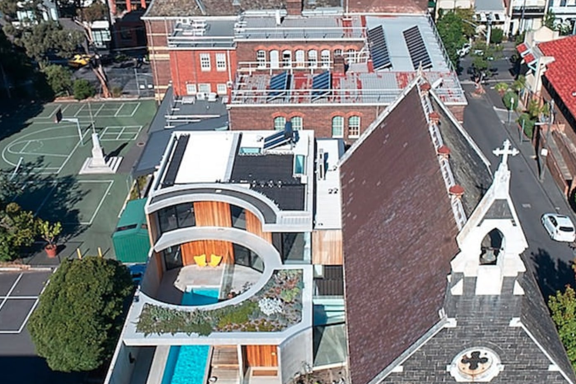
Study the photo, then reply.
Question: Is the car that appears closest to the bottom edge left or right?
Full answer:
The car that appears closest to the bottom edge sits on the right side.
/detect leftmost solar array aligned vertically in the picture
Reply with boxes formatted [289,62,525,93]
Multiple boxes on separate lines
[369,26,392,69]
